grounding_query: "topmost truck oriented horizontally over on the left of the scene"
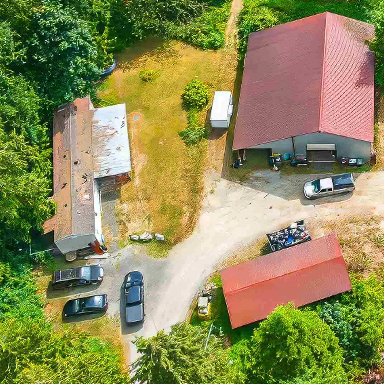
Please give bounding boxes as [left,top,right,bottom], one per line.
[48,264,108,293]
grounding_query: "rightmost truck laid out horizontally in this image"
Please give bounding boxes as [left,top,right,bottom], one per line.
[304,171,357,201]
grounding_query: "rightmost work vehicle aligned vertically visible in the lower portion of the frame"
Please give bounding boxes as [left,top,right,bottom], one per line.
[193,283,216,322]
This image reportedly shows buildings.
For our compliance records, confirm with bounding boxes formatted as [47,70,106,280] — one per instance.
[221,235,353,336]
[27,91,121,252]
[233,14,375,168]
